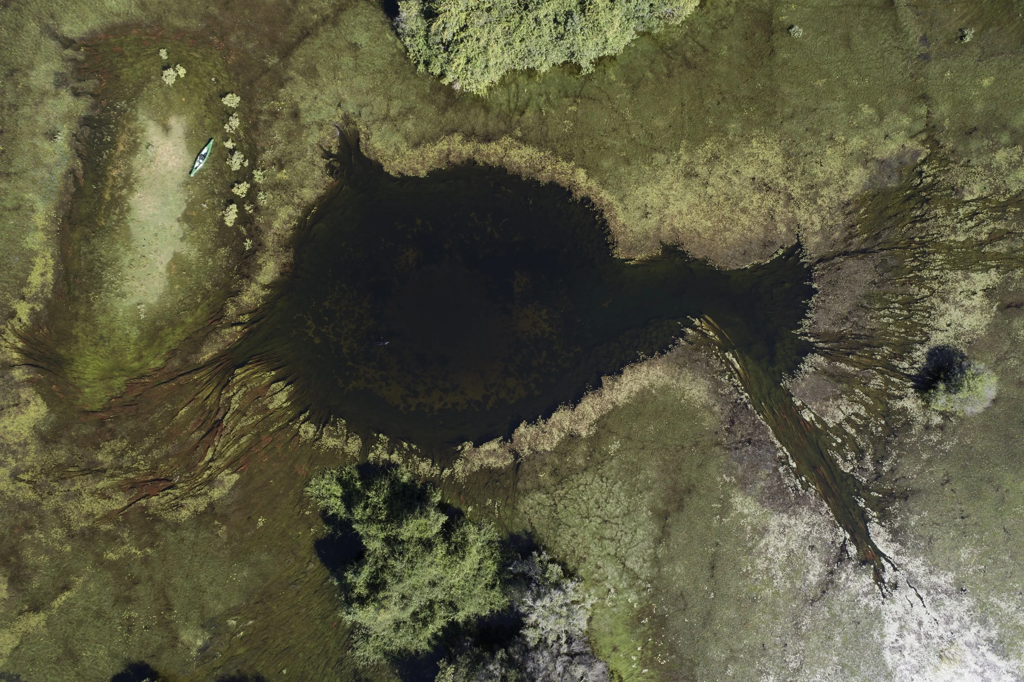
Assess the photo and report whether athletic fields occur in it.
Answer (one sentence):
No, no athletic field can be seen from above.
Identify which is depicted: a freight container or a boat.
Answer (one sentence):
Visible in the photo is a boat.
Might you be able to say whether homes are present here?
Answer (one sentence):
No, I can't see a single home in this photo.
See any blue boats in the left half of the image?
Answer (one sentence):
No, there's no blue boat to be seen in the left half of the image.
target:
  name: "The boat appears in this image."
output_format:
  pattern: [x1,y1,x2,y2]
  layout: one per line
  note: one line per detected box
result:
[189,137,213,176]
